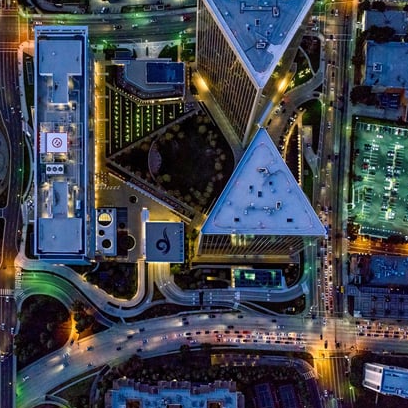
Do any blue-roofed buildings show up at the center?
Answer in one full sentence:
Yes, you'll find a blue-roofed building at the center.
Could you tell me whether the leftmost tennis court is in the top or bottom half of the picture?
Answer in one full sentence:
Seen from above, the leftmost tennis court lies in the bottom half of the view.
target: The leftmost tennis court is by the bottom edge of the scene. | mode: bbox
[248,378,280,408]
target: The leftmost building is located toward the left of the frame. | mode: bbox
[34,26,94,265]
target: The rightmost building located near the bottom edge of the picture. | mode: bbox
[356,361,408,398]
